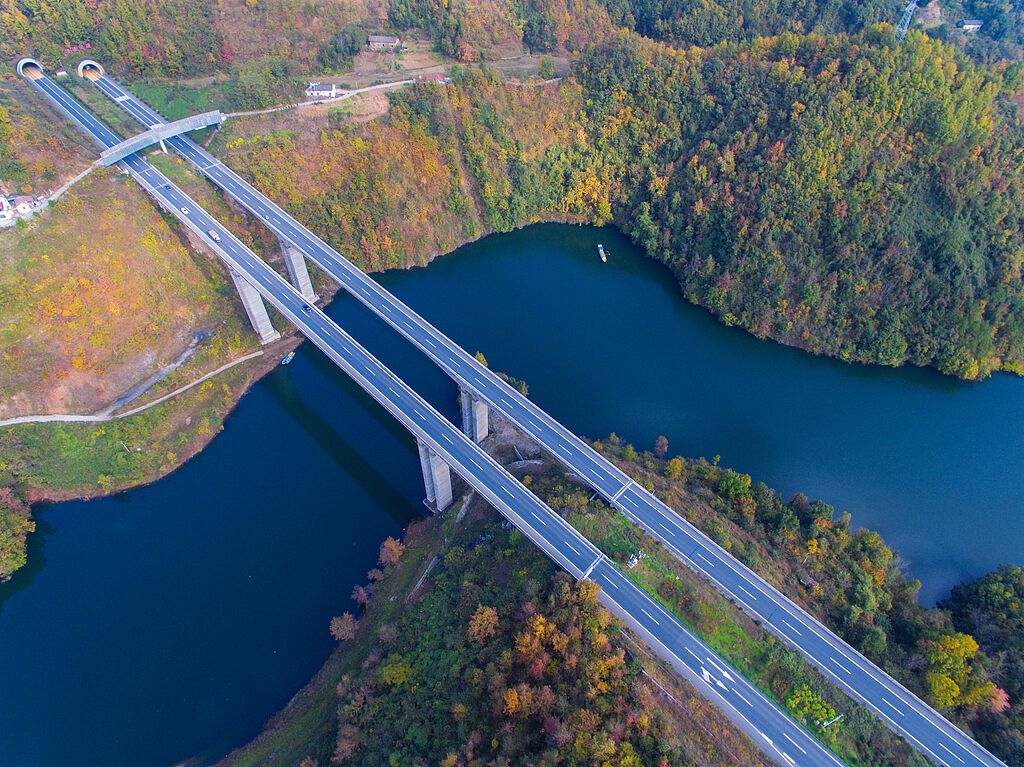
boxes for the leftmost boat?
[282,351,297,365]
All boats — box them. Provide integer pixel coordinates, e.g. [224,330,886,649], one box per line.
[282,351,297,365]
[597,244,611,262]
